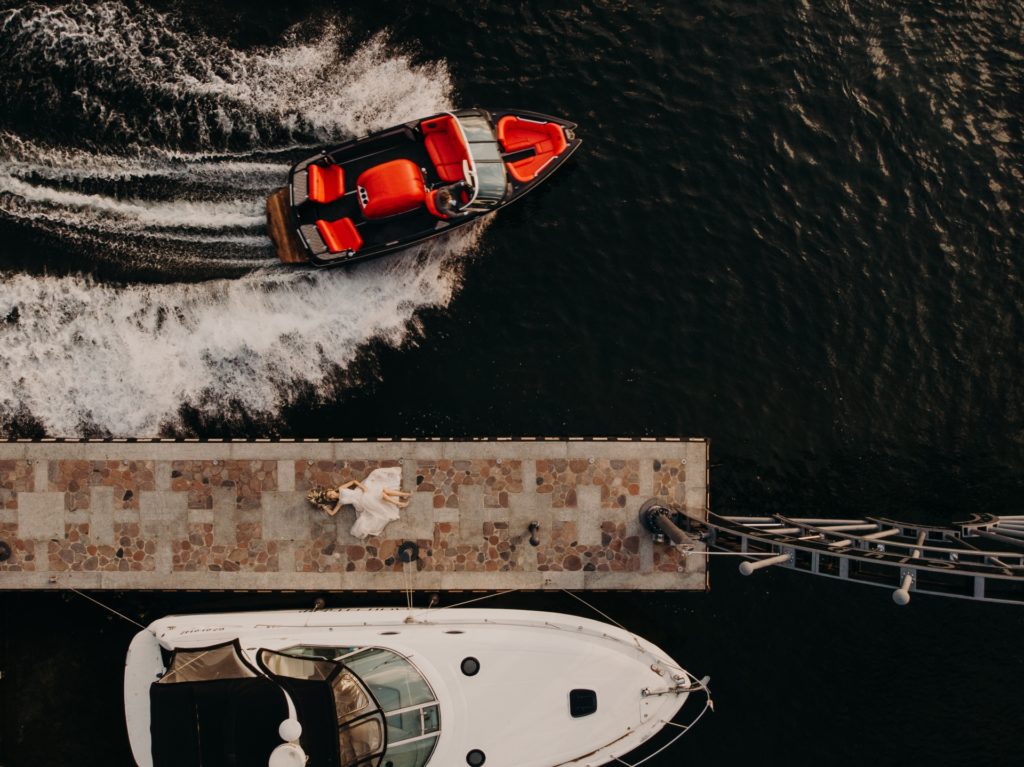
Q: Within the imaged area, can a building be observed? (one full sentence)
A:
No, there isn't any building down there.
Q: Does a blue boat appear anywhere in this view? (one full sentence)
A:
No, no blue boat can be seen from above.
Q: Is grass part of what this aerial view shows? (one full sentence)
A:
No, no grass is visible.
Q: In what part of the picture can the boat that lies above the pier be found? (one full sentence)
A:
The boat that lies above the pier sits in the top section of the image.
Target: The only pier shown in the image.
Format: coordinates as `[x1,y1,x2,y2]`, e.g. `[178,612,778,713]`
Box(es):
[0,435,709,594]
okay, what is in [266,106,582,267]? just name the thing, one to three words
boat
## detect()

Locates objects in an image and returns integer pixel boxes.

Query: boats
[126,608,713,767]
[266,106,582,267]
